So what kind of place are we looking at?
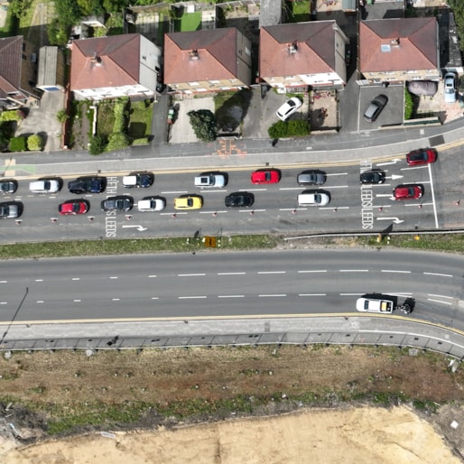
residential area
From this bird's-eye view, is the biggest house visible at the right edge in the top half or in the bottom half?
top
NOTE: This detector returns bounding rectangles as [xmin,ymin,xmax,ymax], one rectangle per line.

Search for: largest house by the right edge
[359,17,441,86]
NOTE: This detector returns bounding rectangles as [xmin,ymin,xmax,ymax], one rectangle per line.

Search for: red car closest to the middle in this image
[251,169,281,184]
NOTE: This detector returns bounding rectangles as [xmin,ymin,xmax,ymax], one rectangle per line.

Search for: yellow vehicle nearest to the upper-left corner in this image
[174,195,204,211]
